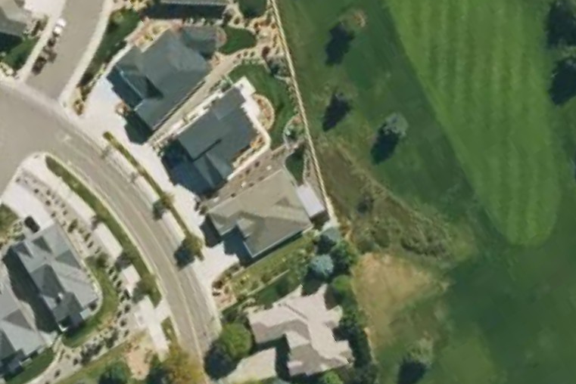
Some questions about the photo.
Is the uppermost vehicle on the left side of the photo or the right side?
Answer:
left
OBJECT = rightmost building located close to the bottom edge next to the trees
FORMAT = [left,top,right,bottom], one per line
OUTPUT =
[244,278,352,379]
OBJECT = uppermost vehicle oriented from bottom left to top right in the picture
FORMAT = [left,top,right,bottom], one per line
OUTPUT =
[50,14,70,39]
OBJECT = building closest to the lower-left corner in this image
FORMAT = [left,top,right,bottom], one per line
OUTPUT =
[0,281,47,370]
